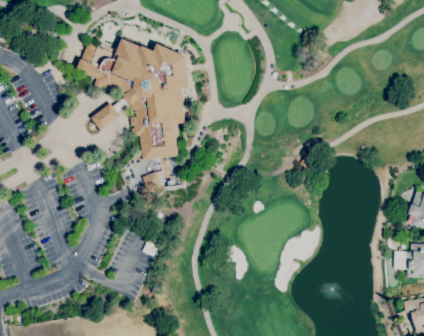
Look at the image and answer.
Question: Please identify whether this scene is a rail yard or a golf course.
golf course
